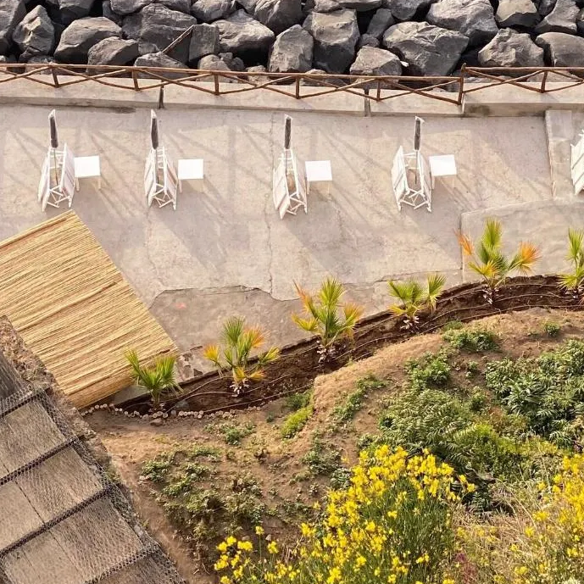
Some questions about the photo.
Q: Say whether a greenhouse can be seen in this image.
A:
No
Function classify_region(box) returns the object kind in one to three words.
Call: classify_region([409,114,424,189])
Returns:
umbrella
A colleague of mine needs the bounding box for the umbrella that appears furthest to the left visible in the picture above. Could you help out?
[42,113,60,188]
